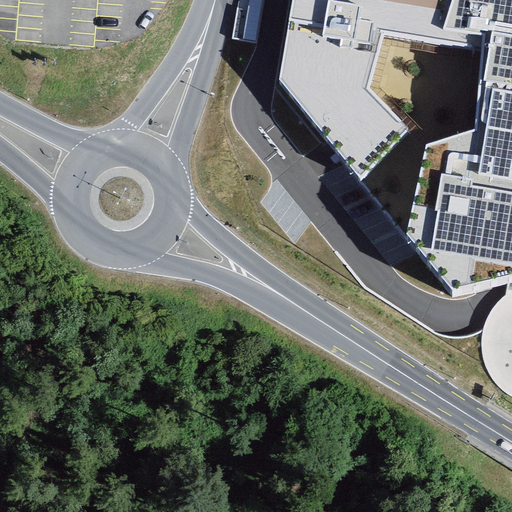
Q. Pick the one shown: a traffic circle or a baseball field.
traffic circle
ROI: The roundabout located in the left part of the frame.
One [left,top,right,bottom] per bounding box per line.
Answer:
[53,130,191,268]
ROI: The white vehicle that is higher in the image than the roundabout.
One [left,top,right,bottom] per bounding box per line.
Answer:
[137,10,155,29]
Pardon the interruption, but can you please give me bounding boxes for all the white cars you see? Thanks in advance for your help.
[137,10,155,29]
[500,440,512,456]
